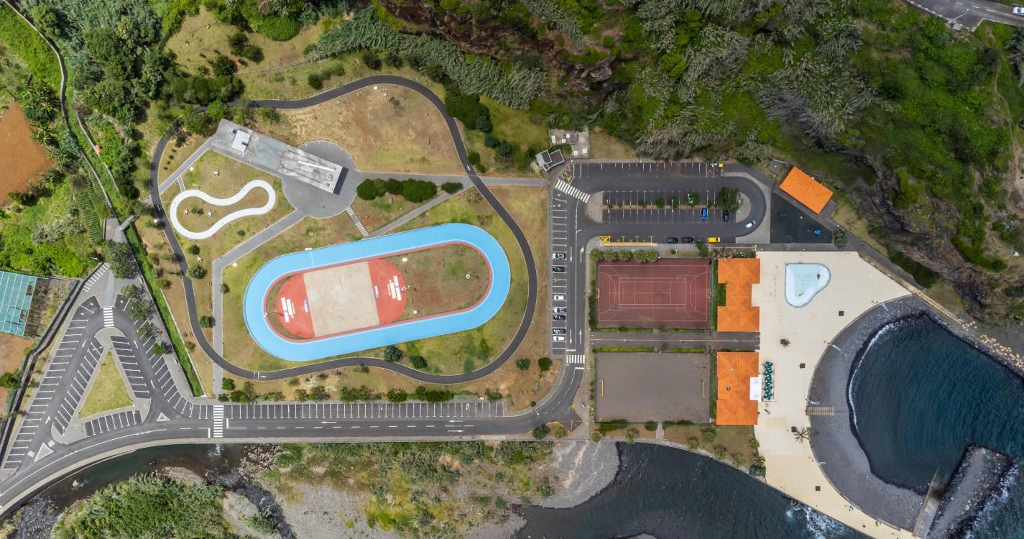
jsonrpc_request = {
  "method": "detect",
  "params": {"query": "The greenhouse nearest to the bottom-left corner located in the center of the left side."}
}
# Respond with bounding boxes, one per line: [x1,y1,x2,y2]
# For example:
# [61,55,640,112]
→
[0,269,37,336]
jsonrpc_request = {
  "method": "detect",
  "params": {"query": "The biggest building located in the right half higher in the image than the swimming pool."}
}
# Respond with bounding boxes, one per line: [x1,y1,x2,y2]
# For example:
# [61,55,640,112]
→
[778,166,834,214]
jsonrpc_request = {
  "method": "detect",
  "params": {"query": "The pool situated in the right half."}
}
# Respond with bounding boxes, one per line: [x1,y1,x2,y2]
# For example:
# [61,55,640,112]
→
[784,262,831,308]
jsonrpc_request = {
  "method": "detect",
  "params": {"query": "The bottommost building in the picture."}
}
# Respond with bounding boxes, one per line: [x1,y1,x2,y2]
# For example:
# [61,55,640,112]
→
[715,352,761,425]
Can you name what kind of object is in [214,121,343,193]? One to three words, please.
building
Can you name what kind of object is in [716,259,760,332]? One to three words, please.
building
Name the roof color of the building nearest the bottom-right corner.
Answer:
orange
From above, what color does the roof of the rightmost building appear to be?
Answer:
orange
